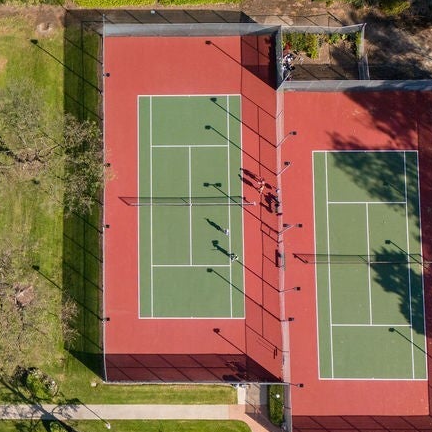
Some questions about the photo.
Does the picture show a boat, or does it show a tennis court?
tennis court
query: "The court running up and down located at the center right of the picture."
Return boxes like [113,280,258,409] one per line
[276,90,432,432]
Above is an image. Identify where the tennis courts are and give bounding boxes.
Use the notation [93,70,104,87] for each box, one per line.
[276,90,432,432]
[103,35,282,382]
